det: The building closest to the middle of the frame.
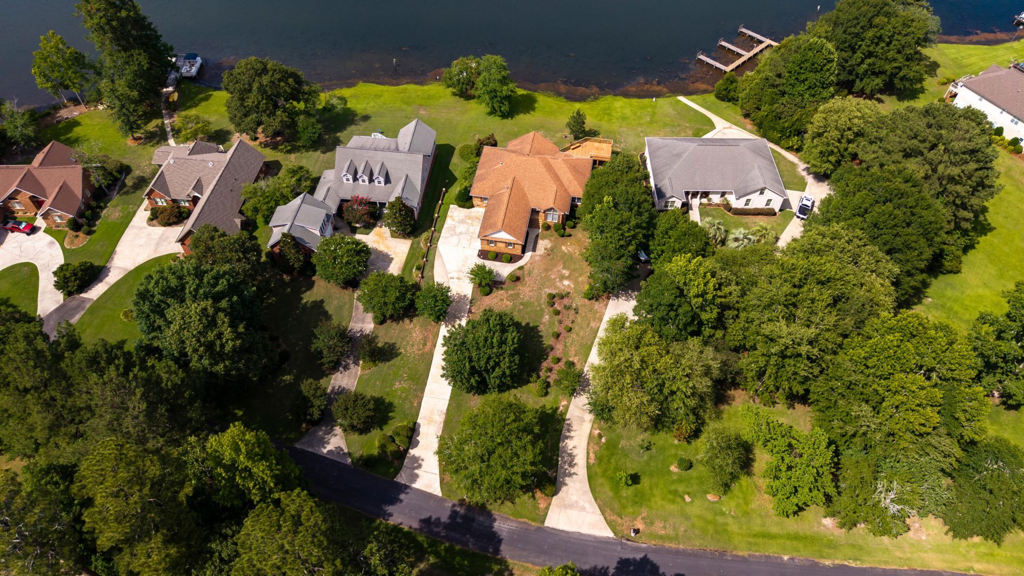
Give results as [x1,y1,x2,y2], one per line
[468,129,593,255]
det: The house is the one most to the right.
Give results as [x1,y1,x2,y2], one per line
[928,59,1024,158]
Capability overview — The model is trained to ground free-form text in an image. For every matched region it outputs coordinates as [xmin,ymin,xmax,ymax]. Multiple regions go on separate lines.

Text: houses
[141,132,272,257]
[267,116,438,262]
[644,136,789,214]
[928,59,1024,158]
[468,129,593,255]
[0,141,111,229]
